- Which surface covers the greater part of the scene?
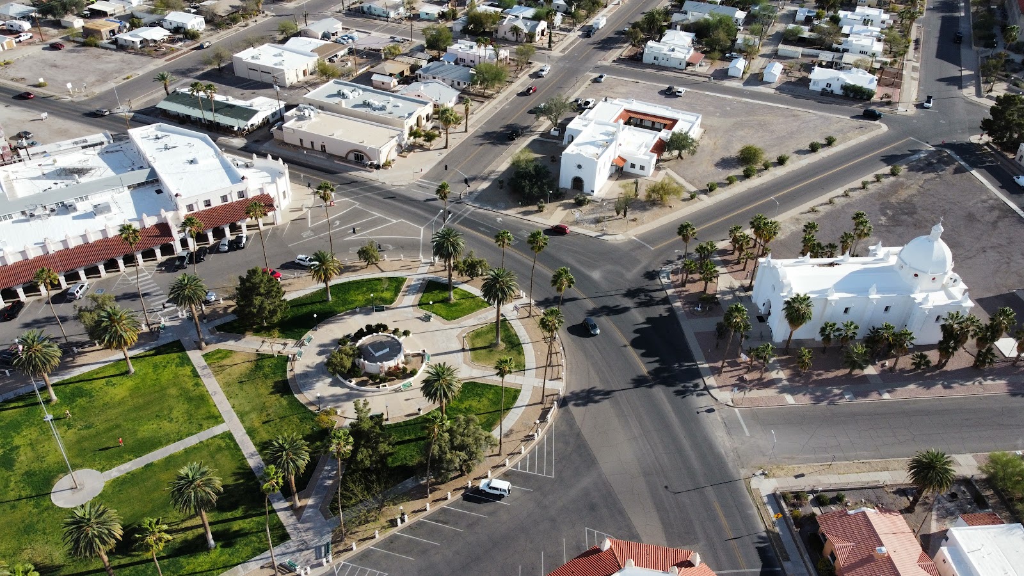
paved ground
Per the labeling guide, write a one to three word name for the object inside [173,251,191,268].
vehicle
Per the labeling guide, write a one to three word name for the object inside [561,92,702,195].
building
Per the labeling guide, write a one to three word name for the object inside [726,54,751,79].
house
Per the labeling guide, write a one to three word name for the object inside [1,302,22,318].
car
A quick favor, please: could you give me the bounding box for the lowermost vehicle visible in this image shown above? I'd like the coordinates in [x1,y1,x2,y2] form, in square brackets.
[480,479,512,498]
